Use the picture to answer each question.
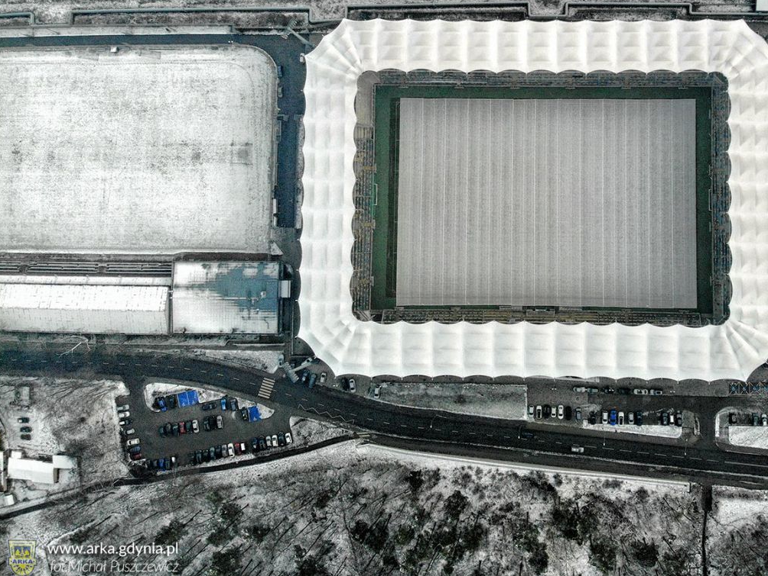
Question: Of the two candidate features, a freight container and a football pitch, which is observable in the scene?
football pitch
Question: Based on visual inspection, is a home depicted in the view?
Yes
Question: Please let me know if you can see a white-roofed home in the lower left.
Yes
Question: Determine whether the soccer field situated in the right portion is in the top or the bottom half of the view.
top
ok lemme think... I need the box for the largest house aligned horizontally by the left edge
[3,457,62,485]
